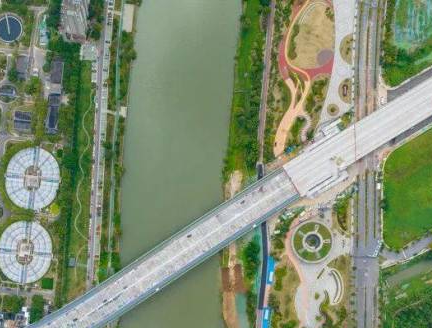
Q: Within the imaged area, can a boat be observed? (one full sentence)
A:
No, there is no boat in the image.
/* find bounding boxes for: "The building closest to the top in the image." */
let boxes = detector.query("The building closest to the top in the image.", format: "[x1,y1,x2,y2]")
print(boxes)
[55,0,90,44]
